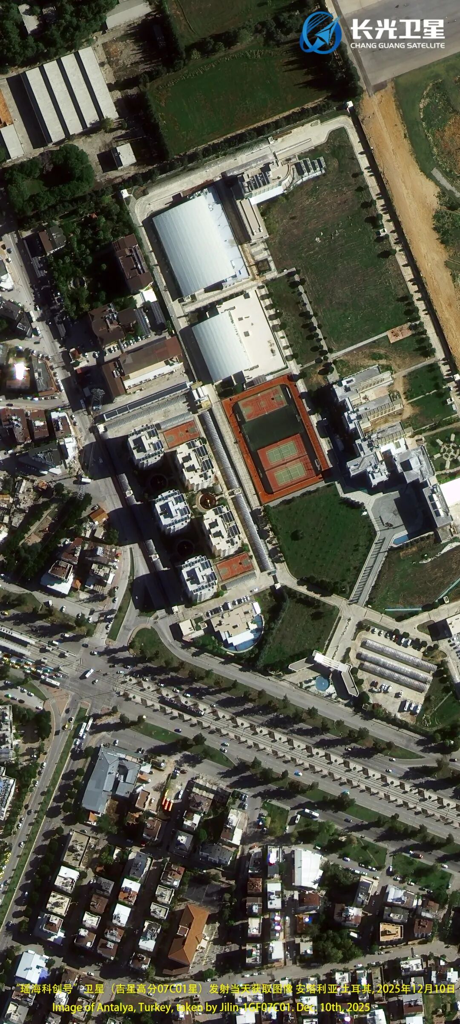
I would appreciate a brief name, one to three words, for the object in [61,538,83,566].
house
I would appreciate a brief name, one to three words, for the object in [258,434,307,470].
tennis court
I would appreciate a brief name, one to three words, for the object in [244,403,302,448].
soccer field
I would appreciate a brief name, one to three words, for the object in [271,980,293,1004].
building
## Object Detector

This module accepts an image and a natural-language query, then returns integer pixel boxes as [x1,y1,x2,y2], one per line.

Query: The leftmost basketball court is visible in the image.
[163,418,202,449]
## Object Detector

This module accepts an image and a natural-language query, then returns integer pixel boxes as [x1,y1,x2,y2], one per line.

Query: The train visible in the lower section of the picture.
[163,694,204,713]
